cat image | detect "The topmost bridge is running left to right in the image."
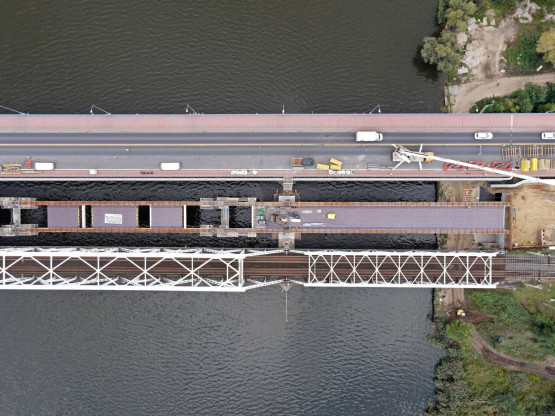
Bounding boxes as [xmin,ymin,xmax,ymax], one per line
[0,112,555,181]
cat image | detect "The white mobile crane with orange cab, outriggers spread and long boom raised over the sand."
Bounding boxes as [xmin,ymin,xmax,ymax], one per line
[389,143,555,186]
